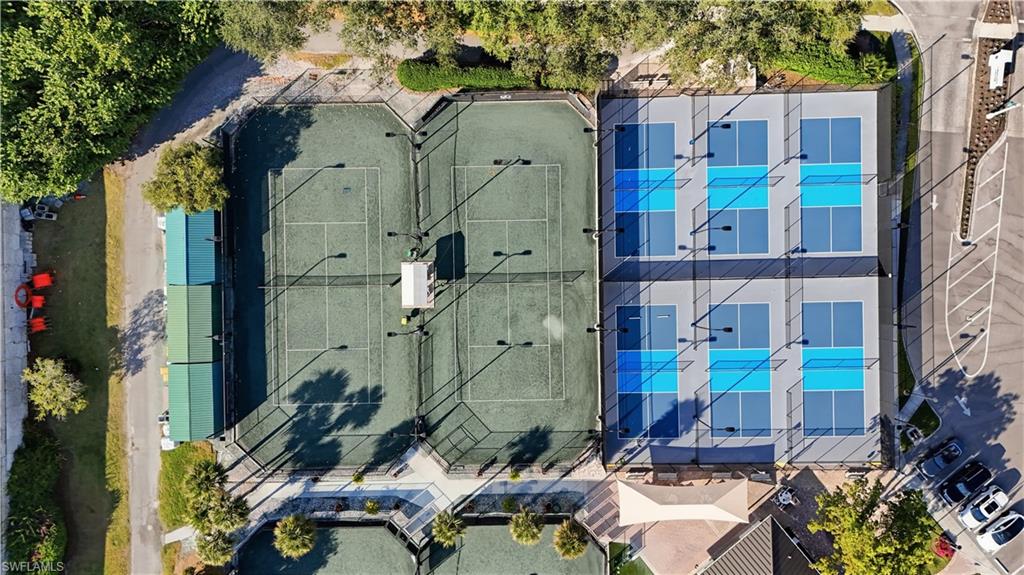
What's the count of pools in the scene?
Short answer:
0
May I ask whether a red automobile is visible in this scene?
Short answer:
No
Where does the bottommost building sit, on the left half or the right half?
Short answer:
right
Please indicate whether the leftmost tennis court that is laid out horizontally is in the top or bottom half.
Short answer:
bottom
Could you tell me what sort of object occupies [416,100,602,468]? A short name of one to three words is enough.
tennis court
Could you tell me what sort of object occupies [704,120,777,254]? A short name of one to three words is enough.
sports court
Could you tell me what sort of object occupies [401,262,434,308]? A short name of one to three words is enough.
shed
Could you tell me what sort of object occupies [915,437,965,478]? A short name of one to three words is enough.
car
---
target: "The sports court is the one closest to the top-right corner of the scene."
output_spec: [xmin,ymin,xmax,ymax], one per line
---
[797,117,871,252]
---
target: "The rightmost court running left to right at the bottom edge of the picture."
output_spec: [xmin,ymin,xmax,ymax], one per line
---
[422,528,606,575]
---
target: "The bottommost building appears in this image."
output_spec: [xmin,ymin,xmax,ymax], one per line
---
[682,515,818,575]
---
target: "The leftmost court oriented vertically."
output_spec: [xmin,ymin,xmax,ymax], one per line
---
[233,103,418,469]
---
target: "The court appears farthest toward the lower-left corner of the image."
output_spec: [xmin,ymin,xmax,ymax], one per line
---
[237,519,418,575]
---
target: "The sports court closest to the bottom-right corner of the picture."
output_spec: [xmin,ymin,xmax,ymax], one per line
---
[799,302,873,436]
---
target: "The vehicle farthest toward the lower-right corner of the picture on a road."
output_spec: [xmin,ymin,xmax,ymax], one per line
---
[977,507,1024,551]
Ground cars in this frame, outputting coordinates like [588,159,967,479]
[939,459,992,504]
[915,437,965,478]
[977,507,1024,551]
[958,486,1009,529]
